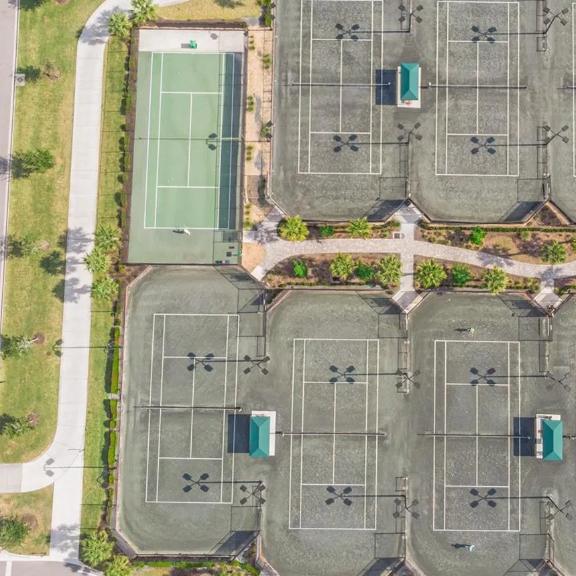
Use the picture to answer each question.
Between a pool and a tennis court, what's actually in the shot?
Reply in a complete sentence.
Of the two, only a tennis court appears.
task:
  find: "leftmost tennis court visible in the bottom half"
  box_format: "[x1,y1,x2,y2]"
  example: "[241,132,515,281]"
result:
[116,265,266,555]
